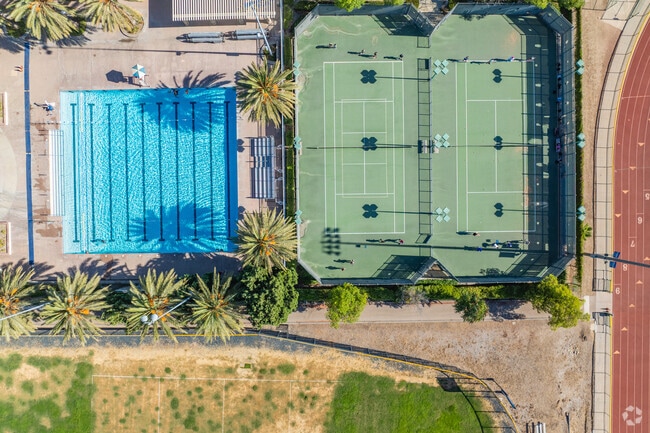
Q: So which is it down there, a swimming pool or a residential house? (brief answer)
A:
swimming pool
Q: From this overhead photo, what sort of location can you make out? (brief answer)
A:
sports ground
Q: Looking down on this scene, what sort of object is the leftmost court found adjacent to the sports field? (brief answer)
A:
tennis court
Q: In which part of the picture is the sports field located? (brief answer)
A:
bottom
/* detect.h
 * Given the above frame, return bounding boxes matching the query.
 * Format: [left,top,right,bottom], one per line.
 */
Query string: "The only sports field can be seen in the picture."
[0,330,513,433]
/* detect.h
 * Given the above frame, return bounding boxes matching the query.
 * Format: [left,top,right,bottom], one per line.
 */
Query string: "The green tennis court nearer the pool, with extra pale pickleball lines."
[298,15,432,279]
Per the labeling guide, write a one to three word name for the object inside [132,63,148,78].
umbrella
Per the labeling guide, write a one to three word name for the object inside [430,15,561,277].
tennis court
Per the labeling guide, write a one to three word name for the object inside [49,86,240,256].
swimming pool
